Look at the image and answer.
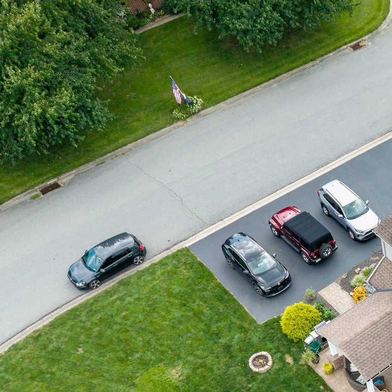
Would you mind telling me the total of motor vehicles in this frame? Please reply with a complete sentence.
The number of motor vehicles here is 4.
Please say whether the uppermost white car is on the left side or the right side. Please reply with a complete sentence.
You can find the uppermost white car on the right side of the picture.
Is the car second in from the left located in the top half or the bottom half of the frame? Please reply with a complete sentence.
Seen from above, the car second in from the left lies in the bottom half of the view.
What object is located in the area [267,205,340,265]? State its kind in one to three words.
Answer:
car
